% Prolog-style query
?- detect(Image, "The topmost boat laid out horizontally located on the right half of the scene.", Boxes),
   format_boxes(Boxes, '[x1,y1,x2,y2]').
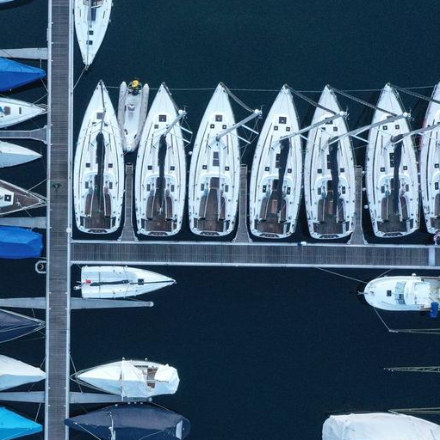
[317,269,440,330]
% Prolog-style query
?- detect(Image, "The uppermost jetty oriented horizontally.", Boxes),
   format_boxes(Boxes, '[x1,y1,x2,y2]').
[0,47,48,60]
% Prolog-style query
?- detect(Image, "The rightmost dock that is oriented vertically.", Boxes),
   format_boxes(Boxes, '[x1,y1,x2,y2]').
[348,166,367,242]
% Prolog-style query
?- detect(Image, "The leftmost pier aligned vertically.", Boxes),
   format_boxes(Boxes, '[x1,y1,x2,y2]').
[36,0,73,440]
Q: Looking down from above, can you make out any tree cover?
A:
No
